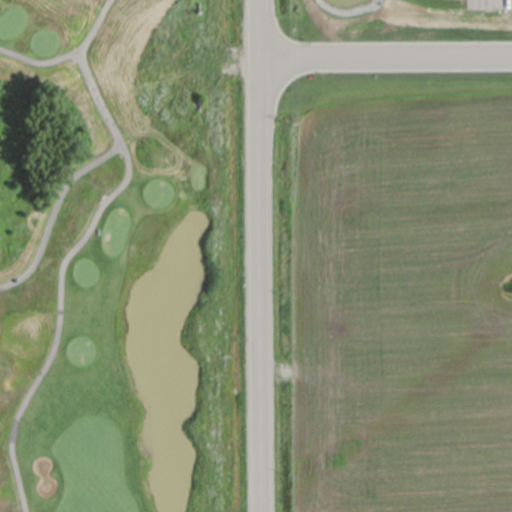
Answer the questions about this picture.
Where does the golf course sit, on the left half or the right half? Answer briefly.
left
